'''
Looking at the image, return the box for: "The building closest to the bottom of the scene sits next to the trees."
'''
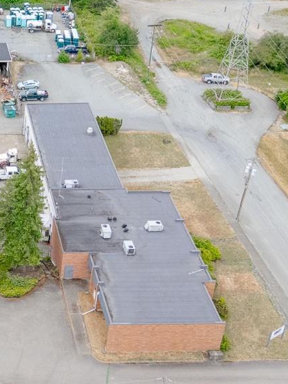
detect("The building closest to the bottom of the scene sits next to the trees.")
[29,103,227,353]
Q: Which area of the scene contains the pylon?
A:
top right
